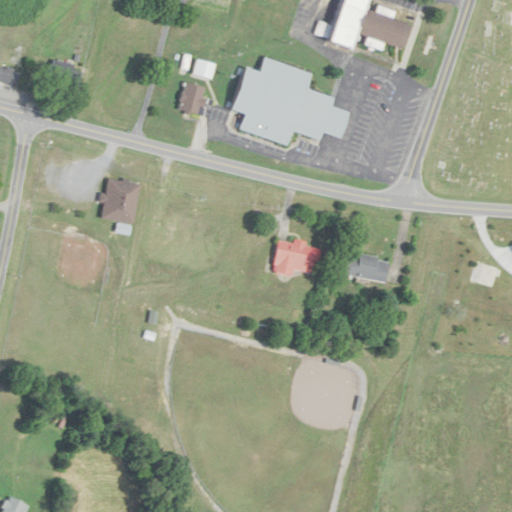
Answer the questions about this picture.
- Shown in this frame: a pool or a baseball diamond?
baseball diamond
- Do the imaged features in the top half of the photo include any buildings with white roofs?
Yes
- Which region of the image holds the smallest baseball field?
left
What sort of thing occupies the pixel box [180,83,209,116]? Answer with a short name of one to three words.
house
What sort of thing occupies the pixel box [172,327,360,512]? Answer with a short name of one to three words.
baseball field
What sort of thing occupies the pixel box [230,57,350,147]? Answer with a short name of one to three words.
building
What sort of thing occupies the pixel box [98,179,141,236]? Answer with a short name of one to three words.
house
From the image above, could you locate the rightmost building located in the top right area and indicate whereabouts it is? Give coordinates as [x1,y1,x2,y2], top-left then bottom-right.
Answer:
[362,5,413,52]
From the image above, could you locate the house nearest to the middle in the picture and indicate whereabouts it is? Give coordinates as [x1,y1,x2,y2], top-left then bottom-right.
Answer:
[273,239,320,276]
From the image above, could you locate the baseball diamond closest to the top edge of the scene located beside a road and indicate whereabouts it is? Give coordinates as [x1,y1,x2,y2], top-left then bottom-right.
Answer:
[6,231,111,372]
